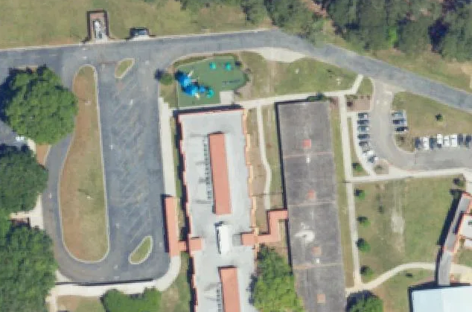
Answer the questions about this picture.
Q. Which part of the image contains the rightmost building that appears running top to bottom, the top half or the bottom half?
bottom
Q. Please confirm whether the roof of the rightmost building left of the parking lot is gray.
Yes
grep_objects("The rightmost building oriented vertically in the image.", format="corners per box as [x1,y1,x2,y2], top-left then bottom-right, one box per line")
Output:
[443,192,472,249]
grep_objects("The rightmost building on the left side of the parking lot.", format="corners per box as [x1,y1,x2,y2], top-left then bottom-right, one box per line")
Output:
[278,101,349,312]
